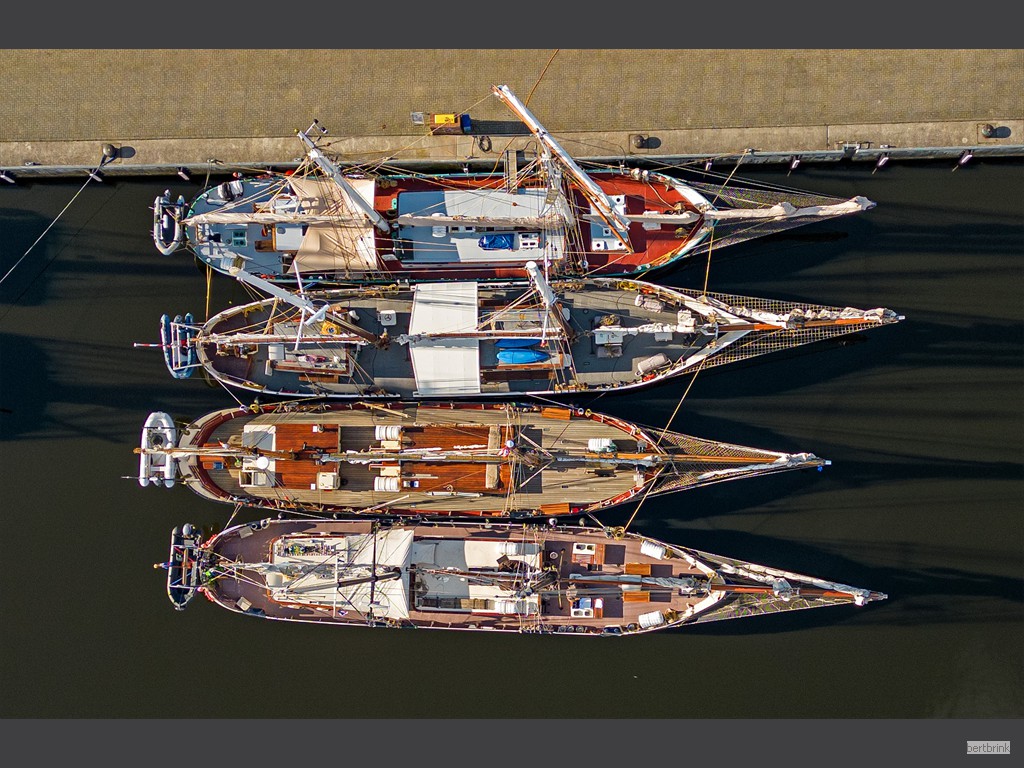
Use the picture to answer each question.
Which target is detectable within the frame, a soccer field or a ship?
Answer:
ship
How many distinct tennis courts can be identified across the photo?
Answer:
zero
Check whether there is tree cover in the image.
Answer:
No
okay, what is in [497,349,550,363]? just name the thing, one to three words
boat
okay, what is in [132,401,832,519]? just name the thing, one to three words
ship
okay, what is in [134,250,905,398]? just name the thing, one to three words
ship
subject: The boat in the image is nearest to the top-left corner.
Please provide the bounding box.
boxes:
[146,189,184,252]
